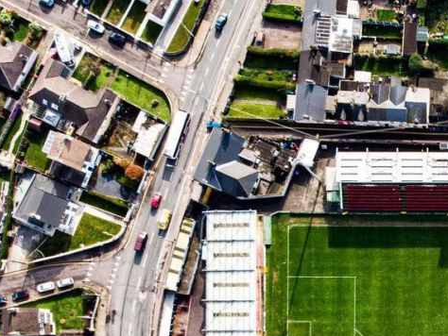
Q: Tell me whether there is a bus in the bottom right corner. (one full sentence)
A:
No, looking in the bottom right corner, there is no bus.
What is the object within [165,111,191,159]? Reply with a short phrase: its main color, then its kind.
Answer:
white bus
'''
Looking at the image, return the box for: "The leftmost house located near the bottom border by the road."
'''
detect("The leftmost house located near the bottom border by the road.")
[2,307,49,336]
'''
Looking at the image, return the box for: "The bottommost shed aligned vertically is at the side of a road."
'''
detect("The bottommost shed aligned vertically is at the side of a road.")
[154,291,177,336]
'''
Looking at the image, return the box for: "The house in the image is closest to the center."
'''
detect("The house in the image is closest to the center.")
[187,122,284,200]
